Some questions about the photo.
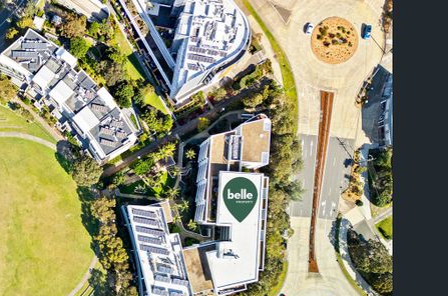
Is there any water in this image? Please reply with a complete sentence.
No, there's no water in this view.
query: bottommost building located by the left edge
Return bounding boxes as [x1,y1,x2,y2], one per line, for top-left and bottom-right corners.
[0,28,139,164]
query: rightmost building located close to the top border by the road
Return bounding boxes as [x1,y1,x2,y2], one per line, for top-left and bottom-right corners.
[117,0,250,113]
